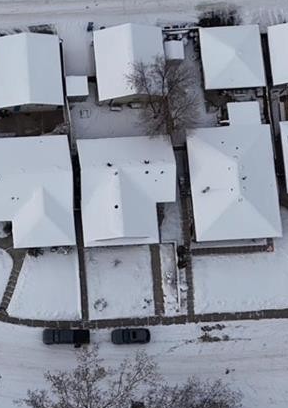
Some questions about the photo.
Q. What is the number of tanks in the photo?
zero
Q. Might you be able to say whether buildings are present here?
Yes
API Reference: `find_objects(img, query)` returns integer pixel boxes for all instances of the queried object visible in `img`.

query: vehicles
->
[43,327,92,346]
[112,327,152,345]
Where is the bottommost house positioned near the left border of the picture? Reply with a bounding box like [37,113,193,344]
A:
[0,135,76,248]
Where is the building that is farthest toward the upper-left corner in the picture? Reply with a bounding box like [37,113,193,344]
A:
[0,32,64,108]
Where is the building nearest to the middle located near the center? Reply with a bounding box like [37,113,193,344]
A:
[76,135,177,247]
